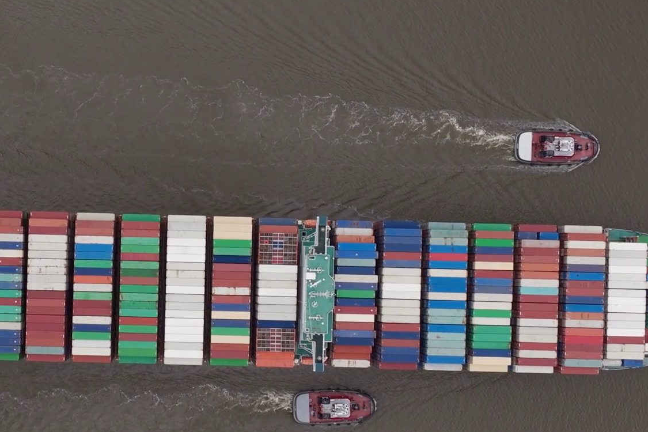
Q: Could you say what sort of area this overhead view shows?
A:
port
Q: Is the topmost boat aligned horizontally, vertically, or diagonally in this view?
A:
horizontally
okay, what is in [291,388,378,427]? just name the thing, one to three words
boat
